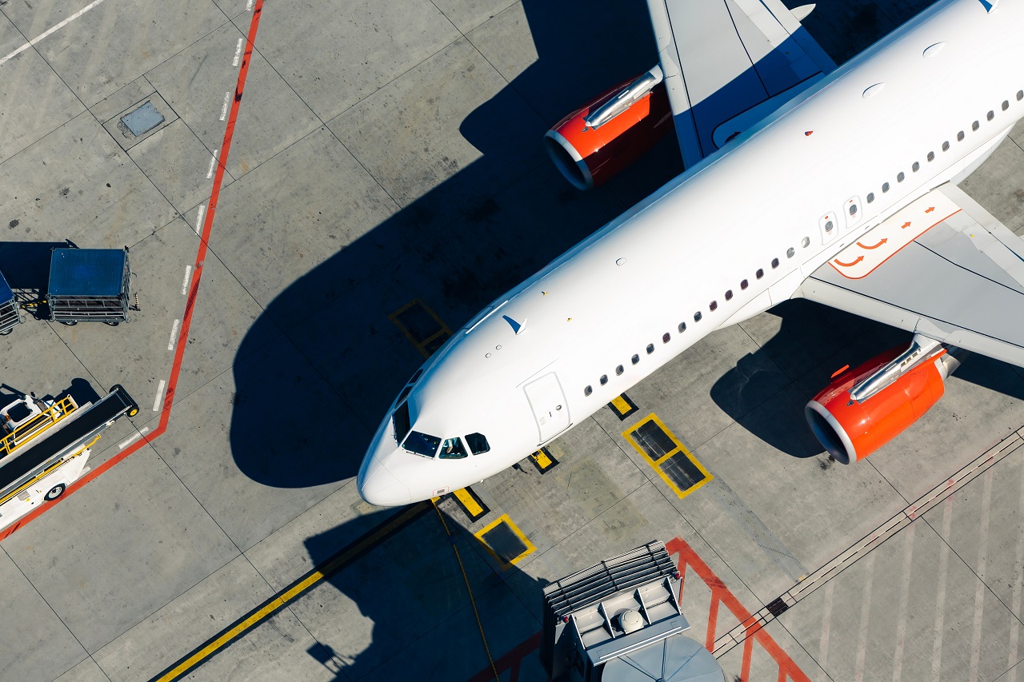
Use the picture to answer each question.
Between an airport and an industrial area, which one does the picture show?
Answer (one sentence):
The area seen from above is an airport.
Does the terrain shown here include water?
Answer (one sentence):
No, there is no water in the image.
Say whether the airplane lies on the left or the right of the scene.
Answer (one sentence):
The airplane sits on the right side.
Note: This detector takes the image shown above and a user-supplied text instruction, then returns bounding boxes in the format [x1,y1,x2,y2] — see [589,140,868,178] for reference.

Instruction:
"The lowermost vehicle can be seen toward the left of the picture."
[0,379,142,535]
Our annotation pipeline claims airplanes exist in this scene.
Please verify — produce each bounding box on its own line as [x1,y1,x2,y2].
[356,0,1024,506]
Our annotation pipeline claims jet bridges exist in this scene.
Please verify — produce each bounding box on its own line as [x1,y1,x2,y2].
[543,537,725,682]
